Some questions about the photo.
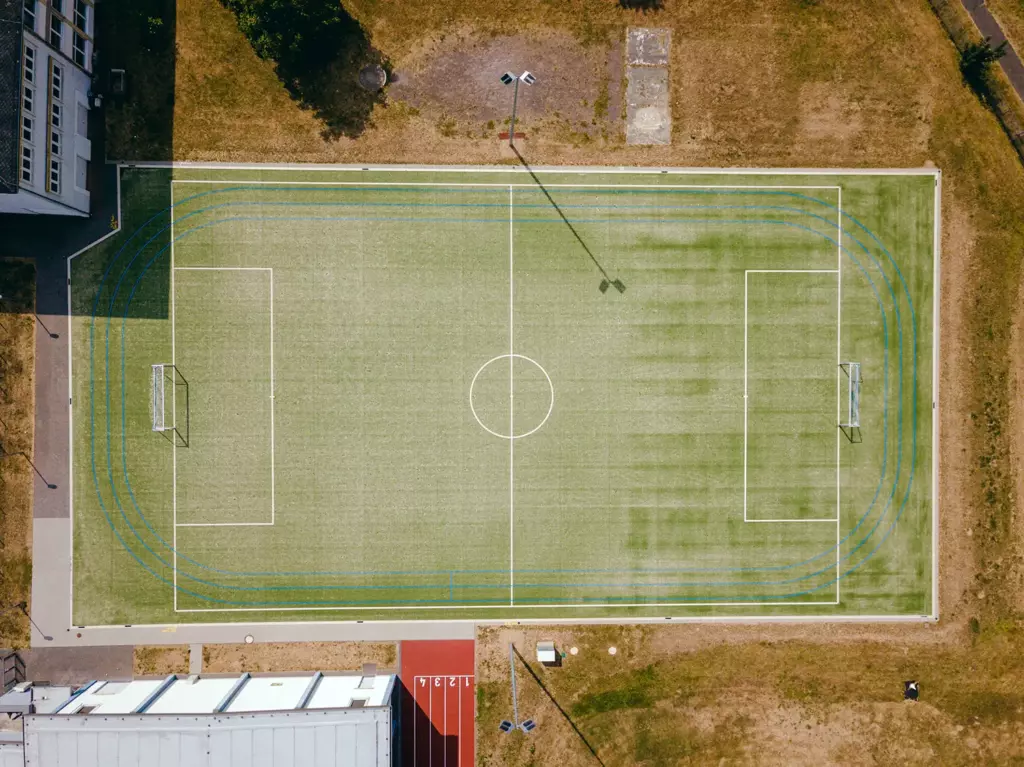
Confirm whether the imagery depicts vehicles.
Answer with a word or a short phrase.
No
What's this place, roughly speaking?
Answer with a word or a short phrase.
sports ground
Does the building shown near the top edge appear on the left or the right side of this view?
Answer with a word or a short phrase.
left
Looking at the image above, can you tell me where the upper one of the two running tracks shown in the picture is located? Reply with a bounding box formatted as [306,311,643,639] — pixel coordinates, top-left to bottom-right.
[90,187,916,605]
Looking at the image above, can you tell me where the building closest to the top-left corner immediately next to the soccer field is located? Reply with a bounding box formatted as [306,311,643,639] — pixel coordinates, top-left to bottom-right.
[0,0,95,218]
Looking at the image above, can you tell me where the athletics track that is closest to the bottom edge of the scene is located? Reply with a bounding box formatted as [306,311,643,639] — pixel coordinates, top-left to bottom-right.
[401,640,475,767]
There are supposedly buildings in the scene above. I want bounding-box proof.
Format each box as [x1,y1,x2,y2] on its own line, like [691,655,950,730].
[23,670,397,767]
[0,0,95,218]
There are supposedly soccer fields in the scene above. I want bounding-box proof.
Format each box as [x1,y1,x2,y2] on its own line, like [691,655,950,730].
[66,158,941,632]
